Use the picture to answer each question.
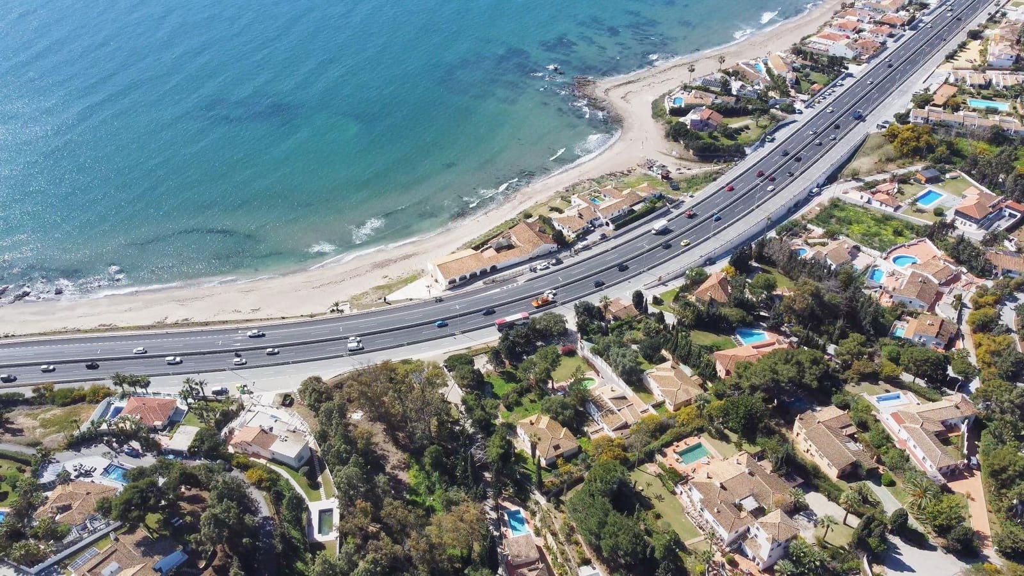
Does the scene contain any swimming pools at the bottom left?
Yes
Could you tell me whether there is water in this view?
Yes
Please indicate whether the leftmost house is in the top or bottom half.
bottom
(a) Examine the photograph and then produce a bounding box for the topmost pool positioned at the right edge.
[967,98,1011,110]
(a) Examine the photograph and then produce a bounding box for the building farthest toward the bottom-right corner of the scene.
[895,394,978,479]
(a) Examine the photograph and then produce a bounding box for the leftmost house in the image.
[33,481,118,534]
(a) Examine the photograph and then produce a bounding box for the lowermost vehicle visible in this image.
[794,508,815,523]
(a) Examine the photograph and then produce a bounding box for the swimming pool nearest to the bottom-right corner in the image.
[872,389,905,405]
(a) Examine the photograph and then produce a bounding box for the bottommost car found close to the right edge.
[965,453,983,468]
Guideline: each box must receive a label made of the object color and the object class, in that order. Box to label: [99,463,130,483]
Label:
blue swimming pool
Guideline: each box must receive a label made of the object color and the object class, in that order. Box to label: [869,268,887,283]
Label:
blue swimming pool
